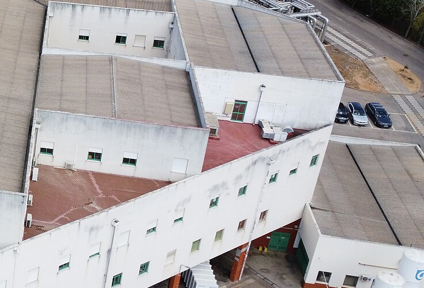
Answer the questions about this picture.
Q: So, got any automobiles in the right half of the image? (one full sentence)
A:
Yes, the scene does show an automobile in the right half of the image.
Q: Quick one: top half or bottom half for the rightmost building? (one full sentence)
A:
The rightmost building sits in the bottom half of the picture.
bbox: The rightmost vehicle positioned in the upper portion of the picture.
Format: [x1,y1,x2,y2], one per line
[366,102,396,127]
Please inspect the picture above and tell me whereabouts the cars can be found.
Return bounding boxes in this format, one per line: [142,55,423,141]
[335,102,354,123]
[366,102,396,127]
[348,103,372,125]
